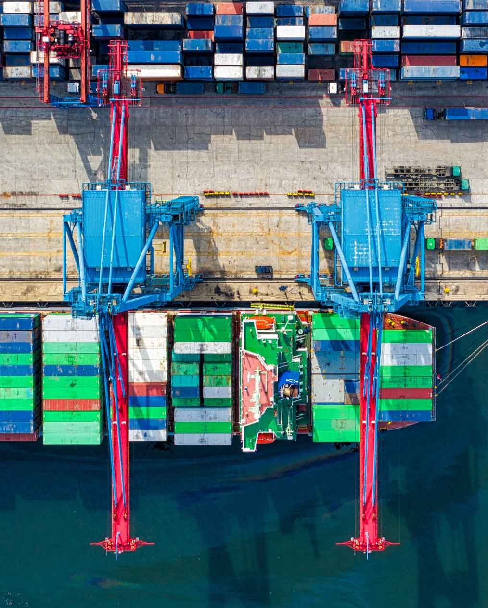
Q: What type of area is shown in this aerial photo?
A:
port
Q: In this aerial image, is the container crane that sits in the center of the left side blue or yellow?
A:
blue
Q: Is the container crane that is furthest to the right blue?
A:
Yes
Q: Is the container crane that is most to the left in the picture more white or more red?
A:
red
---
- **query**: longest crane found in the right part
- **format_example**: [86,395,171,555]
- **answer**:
[294,38,440,563]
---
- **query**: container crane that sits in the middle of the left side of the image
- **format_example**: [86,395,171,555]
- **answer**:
[60,38,205,563]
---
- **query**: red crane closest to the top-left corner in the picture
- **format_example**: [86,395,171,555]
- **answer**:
[34,0,113,107]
